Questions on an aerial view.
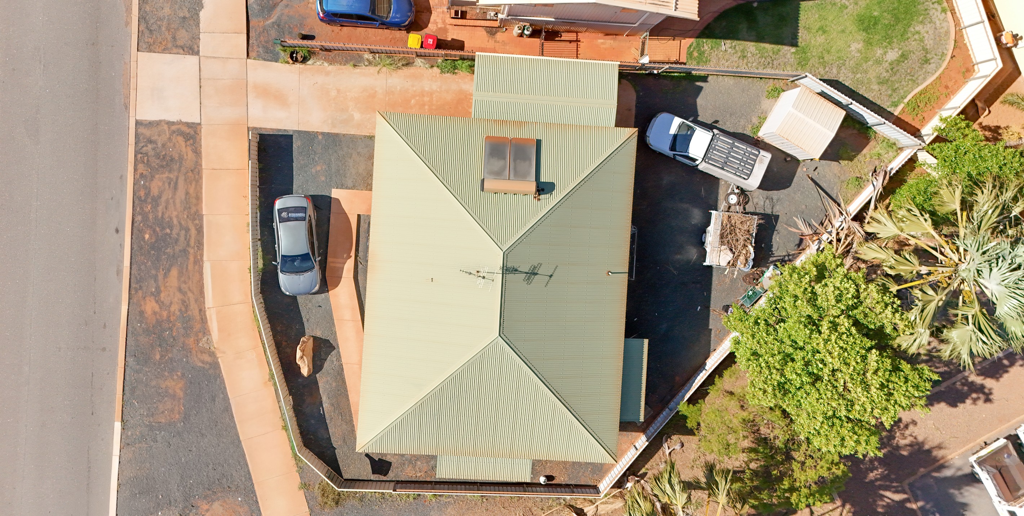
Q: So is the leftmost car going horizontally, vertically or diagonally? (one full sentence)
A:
The leftmost car is laid out vertically.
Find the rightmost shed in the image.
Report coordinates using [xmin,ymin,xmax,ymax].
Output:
[759,85,846,161]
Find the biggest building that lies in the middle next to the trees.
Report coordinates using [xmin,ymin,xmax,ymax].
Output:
[353,107,648,483]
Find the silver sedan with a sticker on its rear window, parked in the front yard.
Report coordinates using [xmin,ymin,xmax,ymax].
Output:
[272,195,322,298]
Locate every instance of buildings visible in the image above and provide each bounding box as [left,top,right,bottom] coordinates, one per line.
[353,107,648,483]
[447,0,703,39]
[759,85,846,161]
